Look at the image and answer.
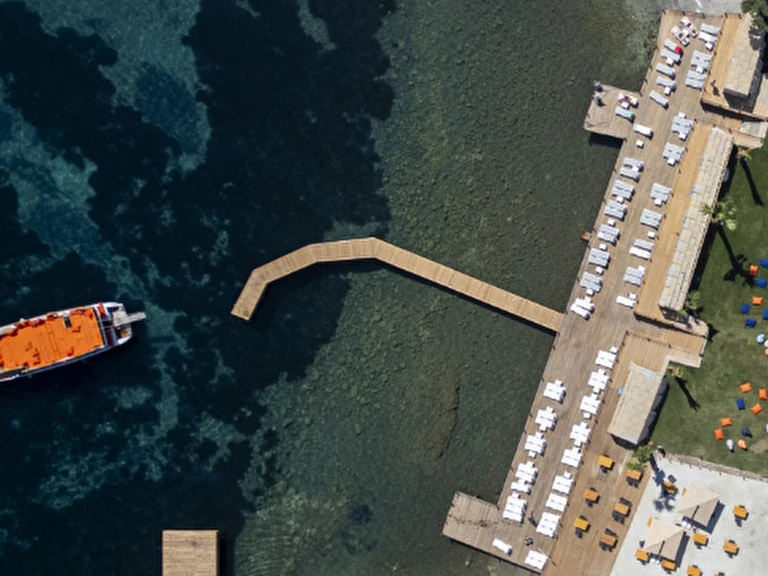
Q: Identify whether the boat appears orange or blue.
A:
orange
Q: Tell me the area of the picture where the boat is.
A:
left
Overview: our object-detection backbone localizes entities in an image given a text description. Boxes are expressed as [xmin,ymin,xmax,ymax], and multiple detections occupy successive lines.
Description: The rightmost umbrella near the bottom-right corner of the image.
[676,483,719,526]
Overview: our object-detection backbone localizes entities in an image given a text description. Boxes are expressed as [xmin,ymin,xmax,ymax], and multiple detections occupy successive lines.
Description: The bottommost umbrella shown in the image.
[644,518,685,560]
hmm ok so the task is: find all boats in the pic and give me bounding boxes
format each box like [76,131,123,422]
[0,299,147,382]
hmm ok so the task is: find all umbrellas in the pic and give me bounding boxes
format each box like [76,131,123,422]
[644,518,685,560]
[676,483,719,526]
